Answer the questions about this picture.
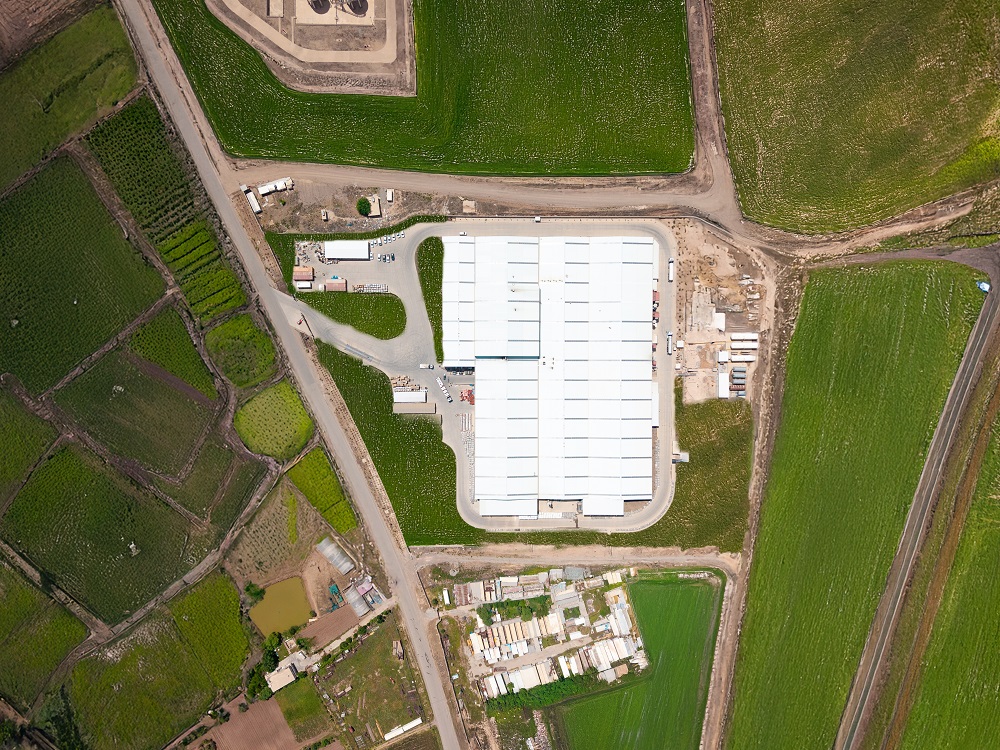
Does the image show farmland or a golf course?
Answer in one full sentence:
The area seen from above is farmland.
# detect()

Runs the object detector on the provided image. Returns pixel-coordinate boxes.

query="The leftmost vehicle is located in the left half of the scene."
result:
[241,185,258,211]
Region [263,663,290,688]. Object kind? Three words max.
house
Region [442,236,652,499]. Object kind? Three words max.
building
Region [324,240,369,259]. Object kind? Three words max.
building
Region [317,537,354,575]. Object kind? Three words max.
greenhouse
